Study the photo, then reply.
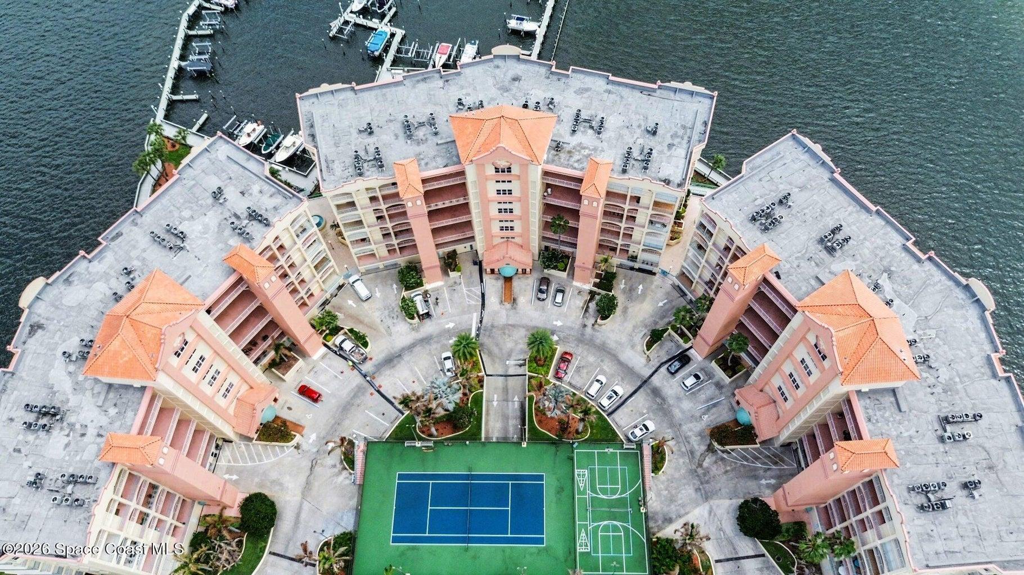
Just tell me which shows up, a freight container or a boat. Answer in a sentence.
This aerial view contains a boat.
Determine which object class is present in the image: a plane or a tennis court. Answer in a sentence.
Of the two, only a tennis court appears.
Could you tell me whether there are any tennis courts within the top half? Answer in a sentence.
No, I see no tennis court within the top half.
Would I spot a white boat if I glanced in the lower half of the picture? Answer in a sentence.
No, looking in the lower half of the picture, there is no white boat.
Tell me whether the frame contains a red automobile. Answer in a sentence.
Yes, the frame does contain a red automobile.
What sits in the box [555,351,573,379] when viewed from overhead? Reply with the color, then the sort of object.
red car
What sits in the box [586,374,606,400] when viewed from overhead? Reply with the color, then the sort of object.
white car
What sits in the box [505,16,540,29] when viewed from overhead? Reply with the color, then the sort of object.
white boat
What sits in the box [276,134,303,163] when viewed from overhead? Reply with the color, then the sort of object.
white boat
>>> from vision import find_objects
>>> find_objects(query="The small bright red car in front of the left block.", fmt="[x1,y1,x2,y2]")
[297,385,324,404]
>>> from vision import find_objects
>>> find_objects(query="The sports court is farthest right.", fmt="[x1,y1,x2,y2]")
[575,446,651,575]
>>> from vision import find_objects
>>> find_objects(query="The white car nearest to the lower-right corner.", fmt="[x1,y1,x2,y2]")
[678,371,706,392]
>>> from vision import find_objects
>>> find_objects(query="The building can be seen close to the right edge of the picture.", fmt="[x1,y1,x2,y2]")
[670,128,1024,575]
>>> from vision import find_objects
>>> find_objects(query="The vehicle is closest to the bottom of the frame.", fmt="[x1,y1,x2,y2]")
[629,418,655,444]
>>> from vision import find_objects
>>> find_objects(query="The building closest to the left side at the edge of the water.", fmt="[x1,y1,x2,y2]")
[0,130,345,575]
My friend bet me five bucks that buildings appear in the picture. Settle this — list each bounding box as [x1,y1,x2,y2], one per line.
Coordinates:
[0,130,345,575]
[670,128,1024,575]
[296,45,718,305]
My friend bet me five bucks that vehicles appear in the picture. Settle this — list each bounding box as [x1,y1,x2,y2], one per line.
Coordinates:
[555,351,573,379]
[348,275,372,301]
[599,385,623,412]
[337,335,366,362]
[442,352,456,378]
[666,353,693,376]
[536,277,550,301]
[586,374,606,400]
[678,371,706,392]
[297,385,324,404]
[411,292,430,317]
[629,418,655,444]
